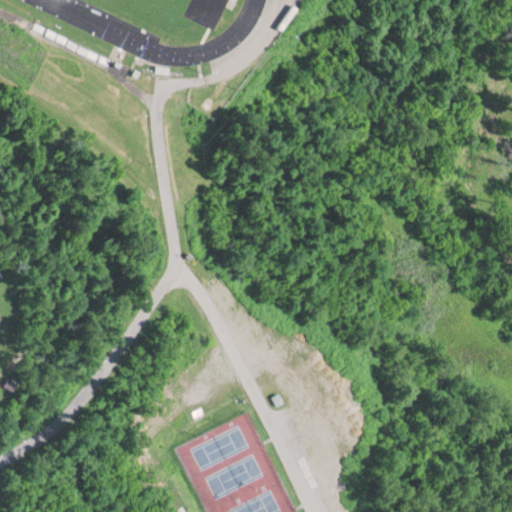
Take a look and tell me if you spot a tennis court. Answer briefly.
Yes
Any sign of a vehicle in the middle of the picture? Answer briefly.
No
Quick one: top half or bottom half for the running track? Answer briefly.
top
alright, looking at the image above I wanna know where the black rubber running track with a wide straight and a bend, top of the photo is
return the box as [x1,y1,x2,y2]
[26,0,265,66]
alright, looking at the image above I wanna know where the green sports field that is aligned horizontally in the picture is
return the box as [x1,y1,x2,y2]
[86,0,245,46]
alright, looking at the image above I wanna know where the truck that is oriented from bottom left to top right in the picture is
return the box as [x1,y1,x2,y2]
[278,2,302,32]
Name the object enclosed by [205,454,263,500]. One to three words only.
tennis court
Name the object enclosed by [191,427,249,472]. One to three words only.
tennis court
